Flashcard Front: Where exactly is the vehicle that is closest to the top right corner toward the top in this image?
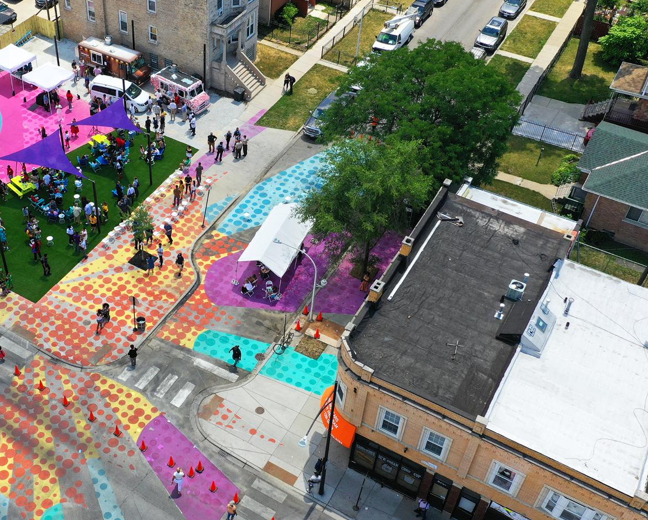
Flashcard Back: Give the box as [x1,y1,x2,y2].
[500,0,529,20]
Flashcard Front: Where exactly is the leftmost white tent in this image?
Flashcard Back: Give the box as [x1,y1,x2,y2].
[0,47,36,93]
